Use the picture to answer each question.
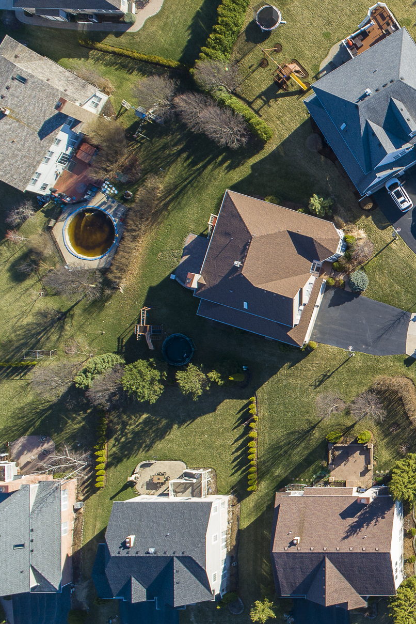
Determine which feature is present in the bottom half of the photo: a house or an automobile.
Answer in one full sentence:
The feature located in the bottom half of the photo is a house.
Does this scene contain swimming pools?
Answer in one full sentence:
Yes, a swimming pool is visible in the scene.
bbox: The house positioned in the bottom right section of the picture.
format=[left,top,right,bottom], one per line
[270,484,402,610]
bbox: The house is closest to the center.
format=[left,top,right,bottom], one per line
[184,189,345,349]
